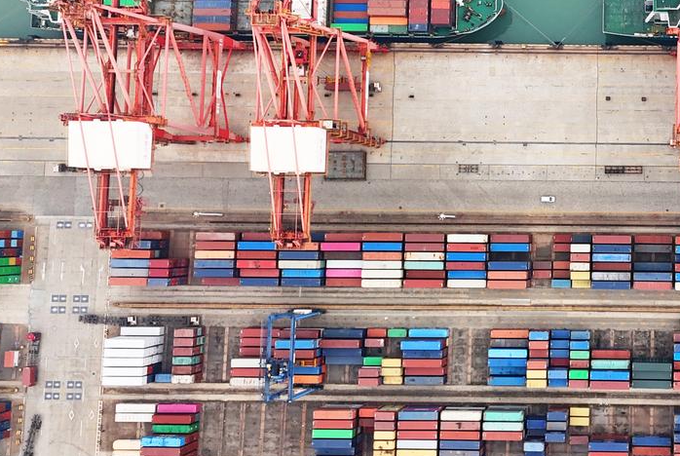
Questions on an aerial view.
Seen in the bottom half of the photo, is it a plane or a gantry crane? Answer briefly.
gantry crane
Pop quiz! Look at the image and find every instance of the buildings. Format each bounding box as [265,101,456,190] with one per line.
[2,350,22,369]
